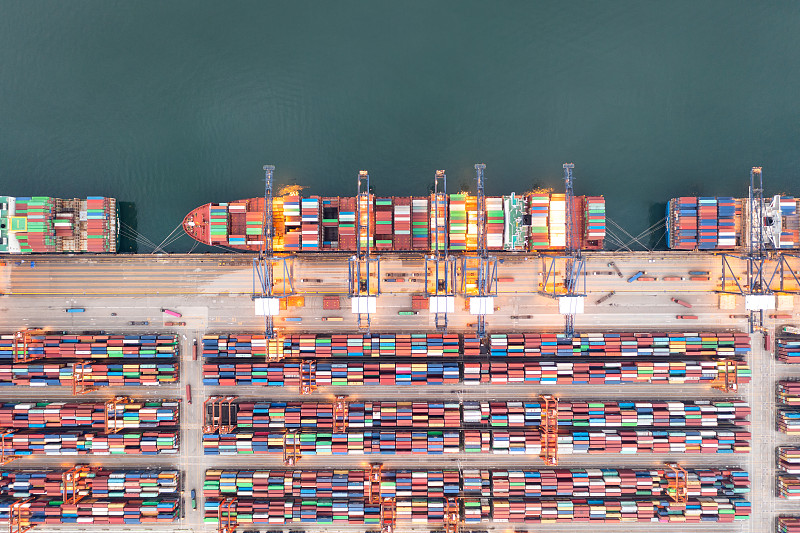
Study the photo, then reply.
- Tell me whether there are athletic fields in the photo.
No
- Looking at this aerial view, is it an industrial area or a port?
port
